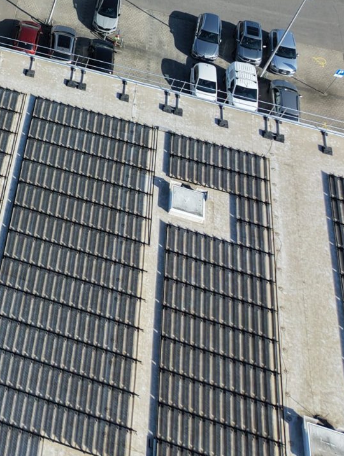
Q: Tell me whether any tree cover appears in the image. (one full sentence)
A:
No, the scene doesn't show any tree cover.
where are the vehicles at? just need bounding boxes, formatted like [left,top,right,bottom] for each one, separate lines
[232,24,266,70]
[86,37,118,75]
[92,0,123,38]
[226,62,262,111]
[266,32,302,84]
[188,62,221,101]
[266,79,303,123]
[12,14,43,55]
[190,18,223,67]
[45,20,78,64]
